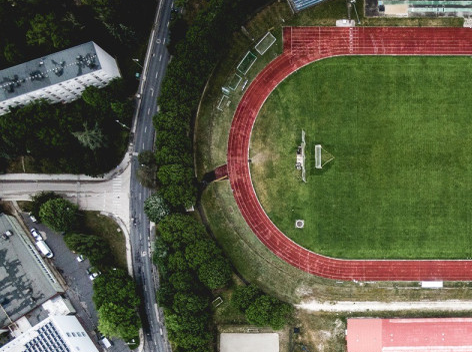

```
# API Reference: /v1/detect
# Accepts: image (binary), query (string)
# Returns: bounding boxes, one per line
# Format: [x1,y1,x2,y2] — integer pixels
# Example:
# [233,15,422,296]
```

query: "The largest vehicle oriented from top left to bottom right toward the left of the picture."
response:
[32,239,53,260]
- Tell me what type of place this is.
sports ground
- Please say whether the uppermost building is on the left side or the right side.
left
